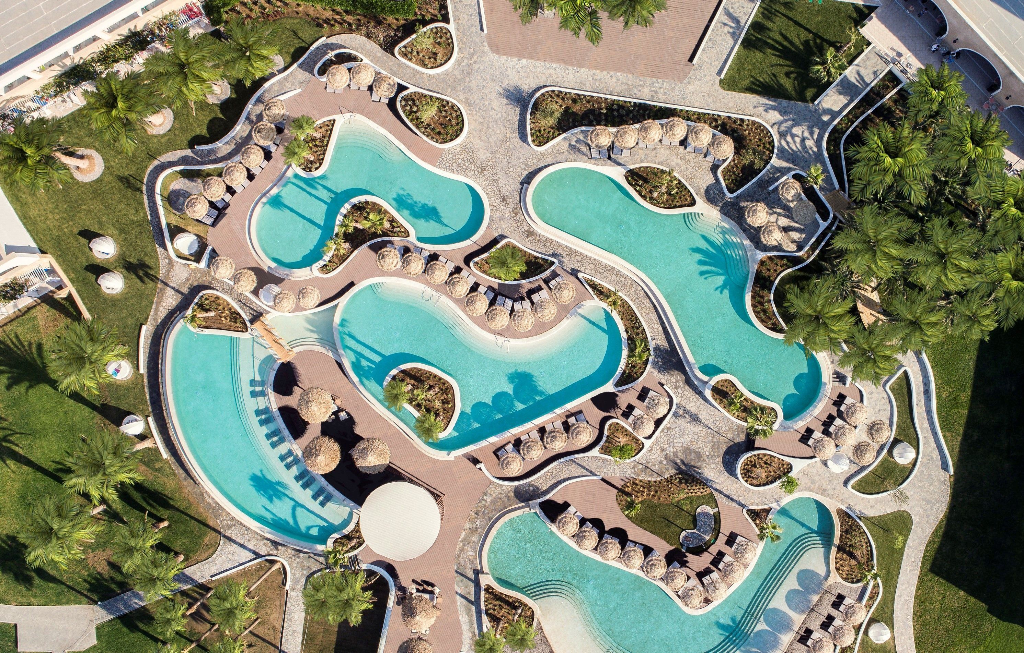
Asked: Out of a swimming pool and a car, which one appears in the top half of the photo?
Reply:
swimming pool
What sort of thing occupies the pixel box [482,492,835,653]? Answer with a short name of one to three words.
swimming pool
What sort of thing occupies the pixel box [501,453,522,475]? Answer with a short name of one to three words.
umbrella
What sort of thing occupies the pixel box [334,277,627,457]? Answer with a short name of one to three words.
swimming pool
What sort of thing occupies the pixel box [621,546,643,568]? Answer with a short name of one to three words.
umbrella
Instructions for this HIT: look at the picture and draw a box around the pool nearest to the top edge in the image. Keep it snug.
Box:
[251,112,490,274]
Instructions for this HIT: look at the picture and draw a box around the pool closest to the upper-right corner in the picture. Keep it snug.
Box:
[527,161,828,425]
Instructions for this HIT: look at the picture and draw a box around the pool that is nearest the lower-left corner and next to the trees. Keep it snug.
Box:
[164,299,358,550]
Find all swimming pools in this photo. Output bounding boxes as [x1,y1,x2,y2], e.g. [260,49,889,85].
[251,112,490,274]
[164,299,358,550]
[482,492,835,653]
[527,161,828,425]
[334,277,627,457]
